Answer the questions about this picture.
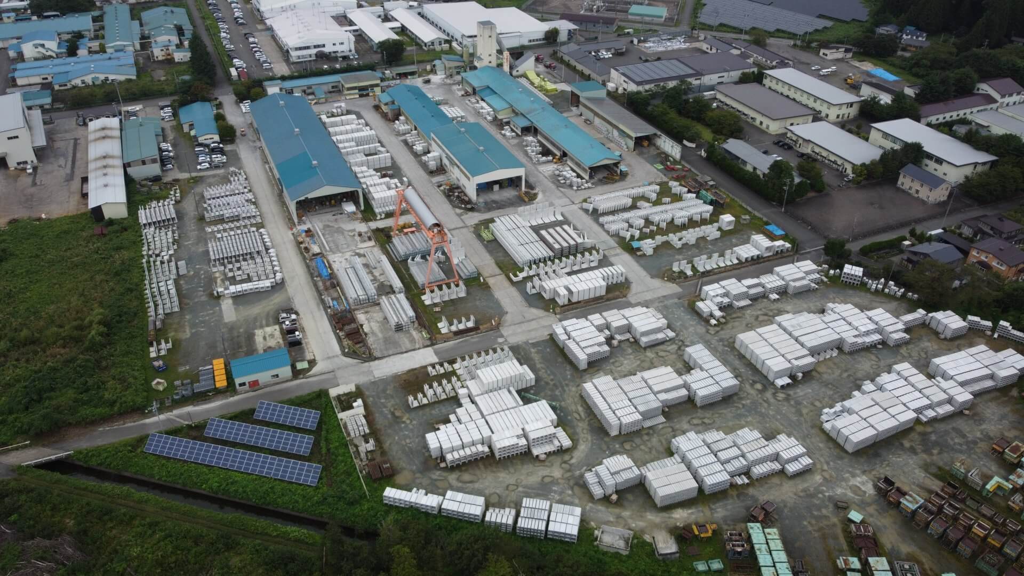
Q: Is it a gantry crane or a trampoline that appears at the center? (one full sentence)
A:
The one visible at the center is a gantry crane.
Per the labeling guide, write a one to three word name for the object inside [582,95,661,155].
shed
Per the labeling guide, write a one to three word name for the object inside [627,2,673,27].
building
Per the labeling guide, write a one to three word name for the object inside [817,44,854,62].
building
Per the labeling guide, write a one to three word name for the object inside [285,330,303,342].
vehicle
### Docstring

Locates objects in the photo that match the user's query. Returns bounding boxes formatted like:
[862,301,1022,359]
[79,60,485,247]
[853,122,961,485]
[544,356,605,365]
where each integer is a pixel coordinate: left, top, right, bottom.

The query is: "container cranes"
[400,180,461,289]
